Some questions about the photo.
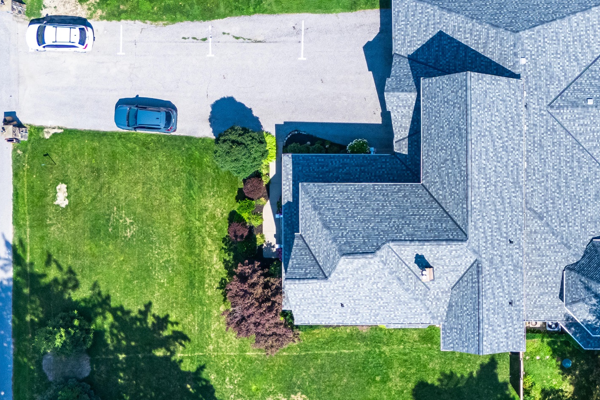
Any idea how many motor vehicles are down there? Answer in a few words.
2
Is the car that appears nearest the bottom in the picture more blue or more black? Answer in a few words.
blue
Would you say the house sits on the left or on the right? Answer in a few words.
right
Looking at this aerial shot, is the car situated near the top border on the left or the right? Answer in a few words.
left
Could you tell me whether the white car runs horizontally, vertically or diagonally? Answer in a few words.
horizontally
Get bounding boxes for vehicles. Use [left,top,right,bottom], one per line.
[118,101,179,134]
[29,19,97,52]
